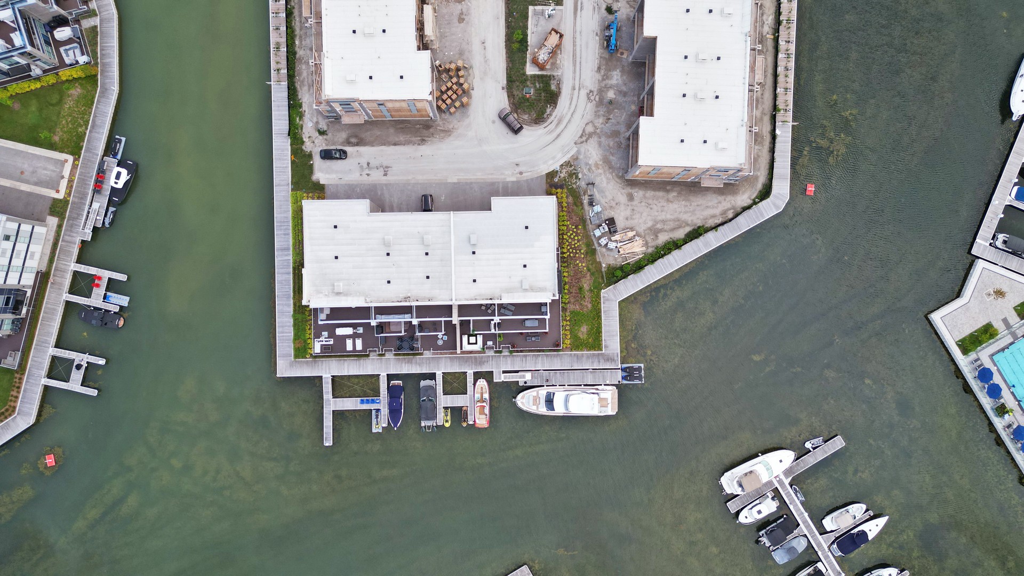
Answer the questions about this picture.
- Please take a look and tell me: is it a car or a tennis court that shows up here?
car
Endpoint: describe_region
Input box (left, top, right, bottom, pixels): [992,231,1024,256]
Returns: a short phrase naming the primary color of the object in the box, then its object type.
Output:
gray boat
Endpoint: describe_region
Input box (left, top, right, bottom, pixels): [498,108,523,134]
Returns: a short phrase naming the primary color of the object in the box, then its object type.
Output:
gray car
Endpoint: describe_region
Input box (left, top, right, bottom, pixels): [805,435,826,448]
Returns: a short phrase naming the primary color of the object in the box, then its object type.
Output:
white boat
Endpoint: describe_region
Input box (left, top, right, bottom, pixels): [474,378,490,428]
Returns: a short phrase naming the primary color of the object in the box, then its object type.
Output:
white boat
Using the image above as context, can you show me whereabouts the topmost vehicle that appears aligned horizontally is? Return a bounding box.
[320,148,347,161]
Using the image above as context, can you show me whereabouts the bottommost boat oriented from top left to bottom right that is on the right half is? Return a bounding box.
[792,485,806,501]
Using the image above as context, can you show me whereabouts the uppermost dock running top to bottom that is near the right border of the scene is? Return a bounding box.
[970,122,1024,274]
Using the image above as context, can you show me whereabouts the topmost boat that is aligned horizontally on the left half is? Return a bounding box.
[77,308,127,328]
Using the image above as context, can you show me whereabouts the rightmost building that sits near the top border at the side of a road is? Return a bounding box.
[625,0,764,188]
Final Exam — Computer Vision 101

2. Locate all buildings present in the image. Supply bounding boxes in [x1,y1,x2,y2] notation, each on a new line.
[302,196,562,354]
[0,0,96,89]
[0,208,50,368]
[307,0,440,125]
[625,0,764,188]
